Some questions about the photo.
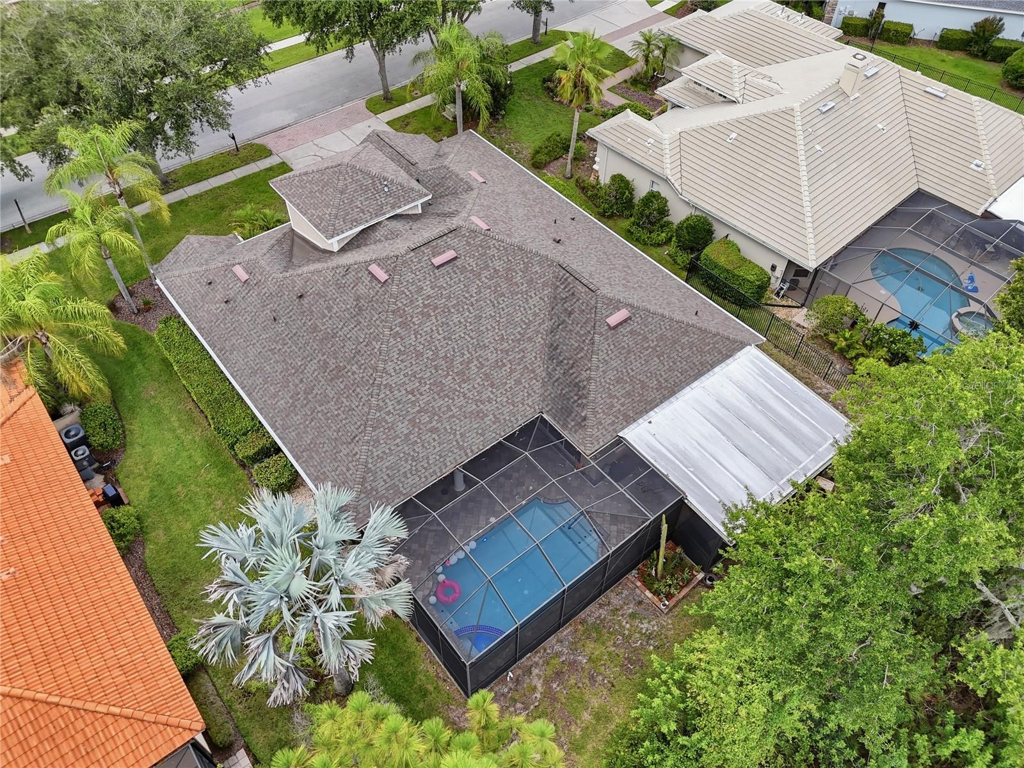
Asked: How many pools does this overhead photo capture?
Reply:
2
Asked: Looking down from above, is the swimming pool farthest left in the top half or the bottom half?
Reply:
bottom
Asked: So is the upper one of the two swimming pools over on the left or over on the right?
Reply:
right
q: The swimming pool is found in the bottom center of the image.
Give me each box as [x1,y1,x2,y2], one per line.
[418,494,613,659]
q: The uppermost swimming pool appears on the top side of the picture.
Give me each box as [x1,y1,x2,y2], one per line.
[873,248,1002,345]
